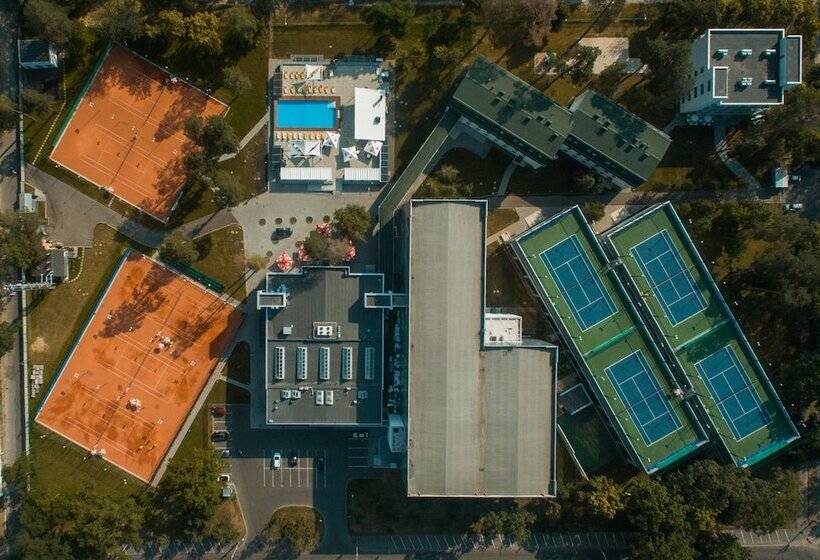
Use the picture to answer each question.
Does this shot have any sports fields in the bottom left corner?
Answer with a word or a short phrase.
No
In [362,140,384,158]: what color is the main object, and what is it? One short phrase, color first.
white umbrella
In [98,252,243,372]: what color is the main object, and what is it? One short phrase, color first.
orange tennis court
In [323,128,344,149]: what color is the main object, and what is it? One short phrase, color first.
white umbrella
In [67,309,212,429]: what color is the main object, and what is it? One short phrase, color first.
orange tennis court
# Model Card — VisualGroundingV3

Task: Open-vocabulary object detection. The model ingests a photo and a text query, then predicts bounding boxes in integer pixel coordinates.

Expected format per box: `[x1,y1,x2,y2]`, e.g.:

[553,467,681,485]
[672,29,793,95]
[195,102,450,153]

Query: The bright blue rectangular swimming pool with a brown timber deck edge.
[274,95,340,131]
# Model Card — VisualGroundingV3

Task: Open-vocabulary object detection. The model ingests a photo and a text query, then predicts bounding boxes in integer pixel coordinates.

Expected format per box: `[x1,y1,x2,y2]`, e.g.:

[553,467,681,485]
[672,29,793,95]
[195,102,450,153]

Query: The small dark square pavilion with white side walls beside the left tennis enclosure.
[559,382,593,414]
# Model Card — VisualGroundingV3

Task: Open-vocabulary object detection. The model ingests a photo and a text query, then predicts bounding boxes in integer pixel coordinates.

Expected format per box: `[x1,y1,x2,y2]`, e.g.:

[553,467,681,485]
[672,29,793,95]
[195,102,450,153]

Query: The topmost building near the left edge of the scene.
[19,39,58,67]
